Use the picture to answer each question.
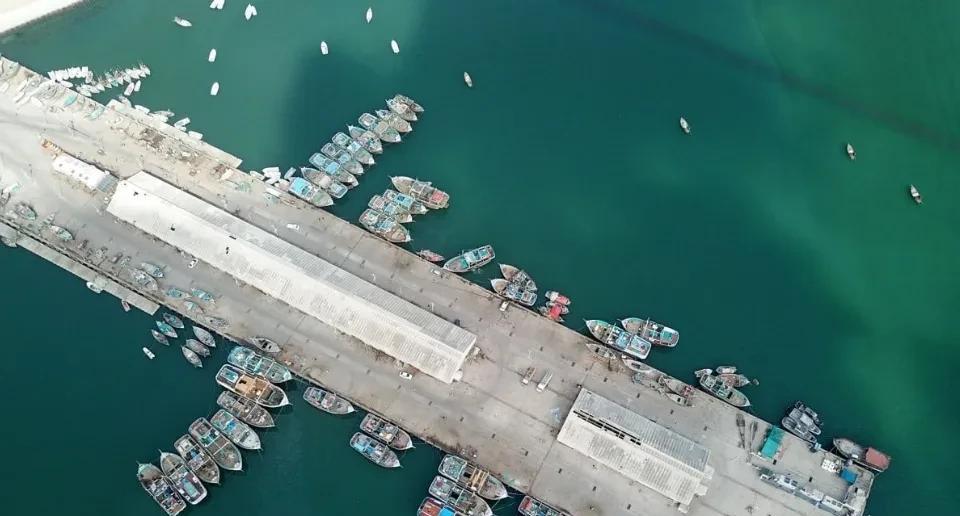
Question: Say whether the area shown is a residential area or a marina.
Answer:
marina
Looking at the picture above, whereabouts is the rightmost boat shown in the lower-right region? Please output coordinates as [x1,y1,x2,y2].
[832,435,894,473]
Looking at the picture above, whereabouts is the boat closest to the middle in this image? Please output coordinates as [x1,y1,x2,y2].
[441,243,495,270]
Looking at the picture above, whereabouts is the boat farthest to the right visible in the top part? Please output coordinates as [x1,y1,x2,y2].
[910,184,924,205]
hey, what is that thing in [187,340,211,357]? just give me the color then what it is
gray boat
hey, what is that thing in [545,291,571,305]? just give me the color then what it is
white boat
